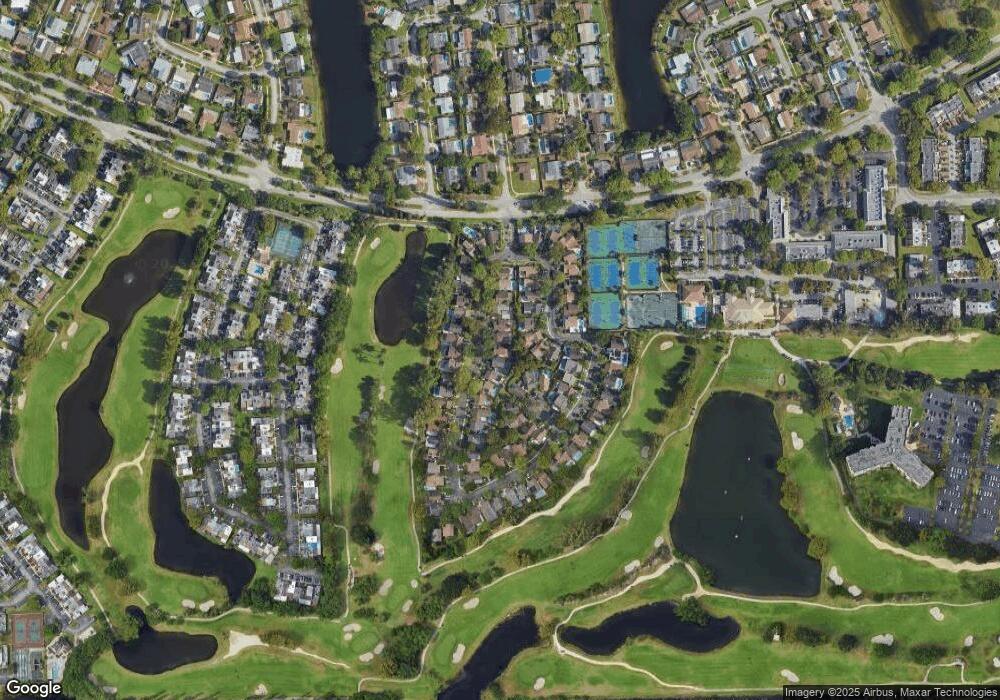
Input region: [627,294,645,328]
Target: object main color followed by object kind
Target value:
gray tennis court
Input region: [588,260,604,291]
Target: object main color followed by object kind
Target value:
blue tennis court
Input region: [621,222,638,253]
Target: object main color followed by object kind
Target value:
blue tennis court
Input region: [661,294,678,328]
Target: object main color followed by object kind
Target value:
gray tennis court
